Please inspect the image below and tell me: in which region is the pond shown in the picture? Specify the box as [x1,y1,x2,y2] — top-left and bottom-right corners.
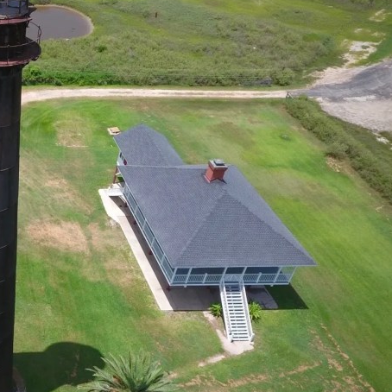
[0,4,95,41]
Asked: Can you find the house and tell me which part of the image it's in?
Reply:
center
